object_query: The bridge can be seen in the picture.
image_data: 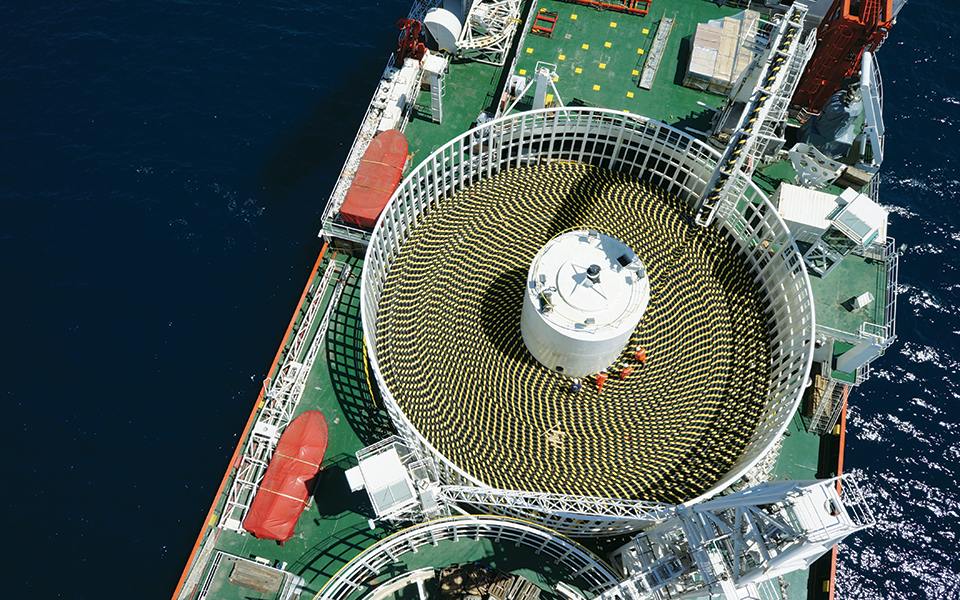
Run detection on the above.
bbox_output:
[431,482,679,531]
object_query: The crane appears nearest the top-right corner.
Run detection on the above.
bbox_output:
[799,0,916,101]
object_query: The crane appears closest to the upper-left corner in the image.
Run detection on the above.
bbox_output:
[392,15,433,78]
